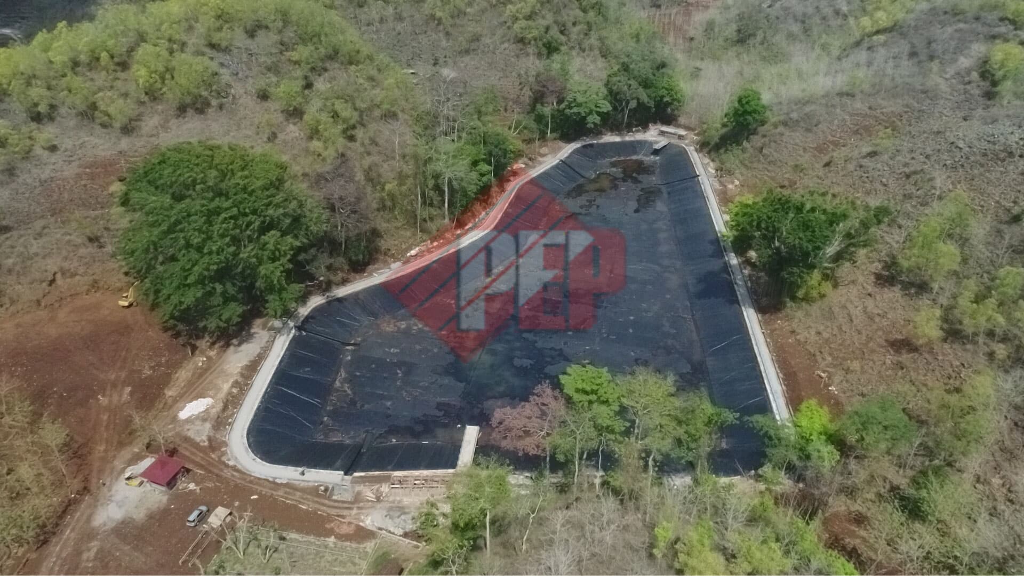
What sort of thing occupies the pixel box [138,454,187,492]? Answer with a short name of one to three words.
shed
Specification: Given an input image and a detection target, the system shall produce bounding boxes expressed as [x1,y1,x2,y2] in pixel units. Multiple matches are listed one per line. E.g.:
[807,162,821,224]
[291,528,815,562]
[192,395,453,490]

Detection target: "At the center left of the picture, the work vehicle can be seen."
[119,279,137,309]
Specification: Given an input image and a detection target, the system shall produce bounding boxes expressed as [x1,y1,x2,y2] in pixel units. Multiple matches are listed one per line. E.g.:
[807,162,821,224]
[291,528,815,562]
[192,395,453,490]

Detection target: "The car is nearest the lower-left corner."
[189,506,207,525]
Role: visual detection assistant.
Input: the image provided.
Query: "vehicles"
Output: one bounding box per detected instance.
[189,506,207,525]
[119,279,137,309]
